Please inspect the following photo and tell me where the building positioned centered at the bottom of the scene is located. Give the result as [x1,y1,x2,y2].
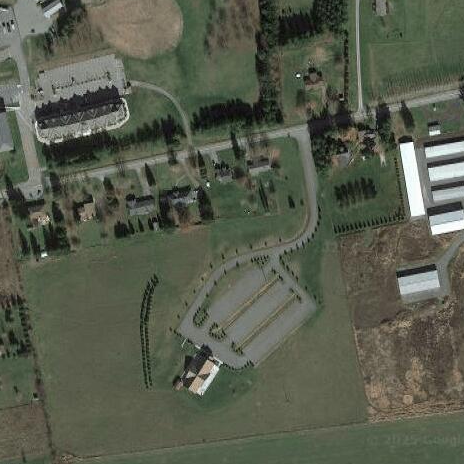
[175,345,220,397]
